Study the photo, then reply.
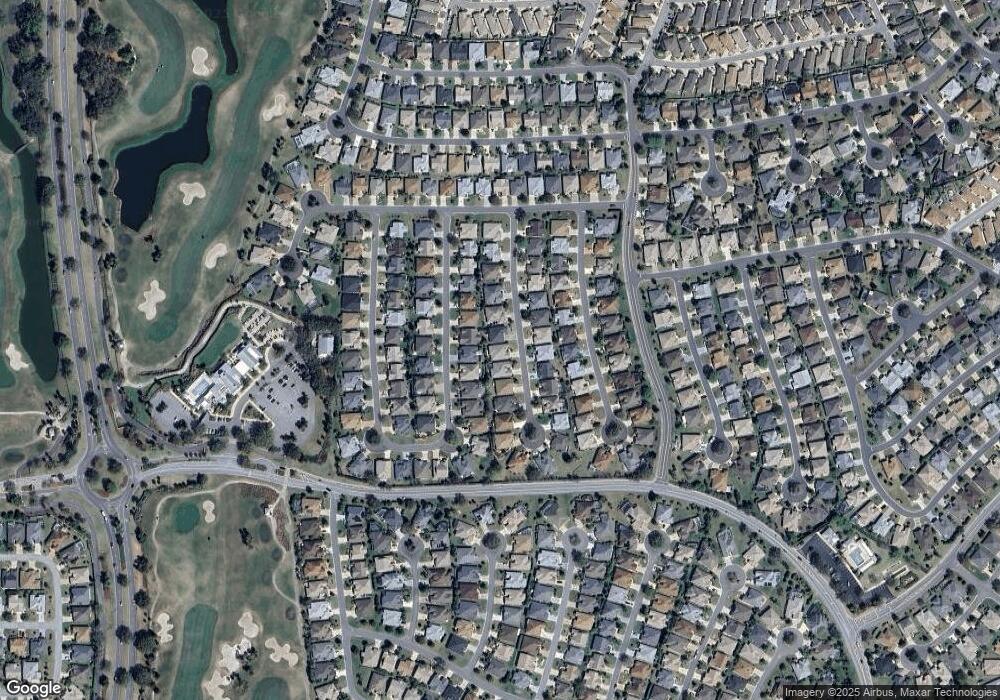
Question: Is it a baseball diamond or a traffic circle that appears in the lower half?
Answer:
traffic circle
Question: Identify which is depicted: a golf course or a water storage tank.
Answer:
golf course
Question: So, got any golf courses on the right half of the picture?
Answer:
No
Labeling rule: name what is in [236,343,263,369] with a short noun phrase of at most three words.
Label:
building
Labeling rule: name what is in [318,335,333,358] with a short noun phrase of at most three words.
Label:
shed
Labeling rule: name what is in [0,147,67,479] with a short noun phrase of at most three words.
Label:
golf course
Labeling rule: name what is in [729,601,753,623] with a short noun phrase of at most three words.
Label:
house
